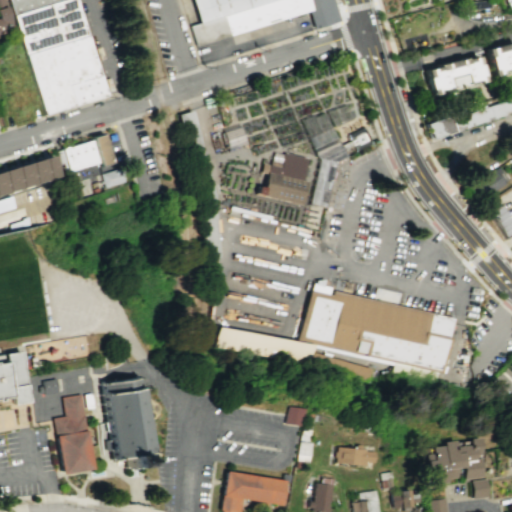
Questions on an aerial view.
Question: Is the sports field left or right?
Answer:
left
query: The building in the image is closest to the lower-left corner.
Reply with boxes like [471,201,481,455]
[58,431,97,474]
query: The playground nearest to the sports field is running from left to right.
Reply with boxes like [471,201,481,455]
[26,336,88,362]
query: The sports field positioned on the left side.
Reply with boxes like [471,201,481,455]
[0,233,49,341]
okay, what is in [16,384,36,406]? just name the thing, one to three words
building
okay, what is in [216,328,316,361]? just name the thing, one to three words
shed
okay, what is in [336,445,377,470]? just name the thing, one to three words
house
